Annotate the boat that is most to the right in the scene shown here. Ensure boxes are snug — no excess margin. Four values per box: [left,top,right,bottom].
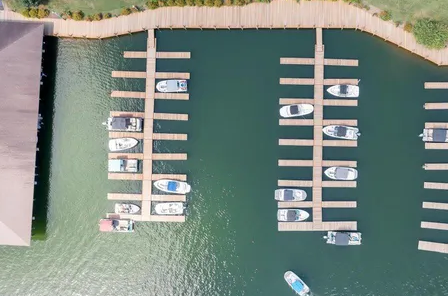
[419,128,448,142]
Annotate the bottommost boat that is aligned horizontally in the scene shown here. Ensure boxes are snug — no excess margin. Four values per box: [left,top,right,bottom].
[324,230,361,245]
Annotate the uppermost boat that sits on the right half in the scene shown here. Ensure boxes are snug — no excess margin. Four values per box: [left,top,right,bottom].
[327,84,359,97]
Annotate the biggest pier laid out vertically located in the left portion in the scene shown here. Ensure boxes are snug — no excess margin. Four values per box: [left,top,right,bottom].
[107,28,191,222]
